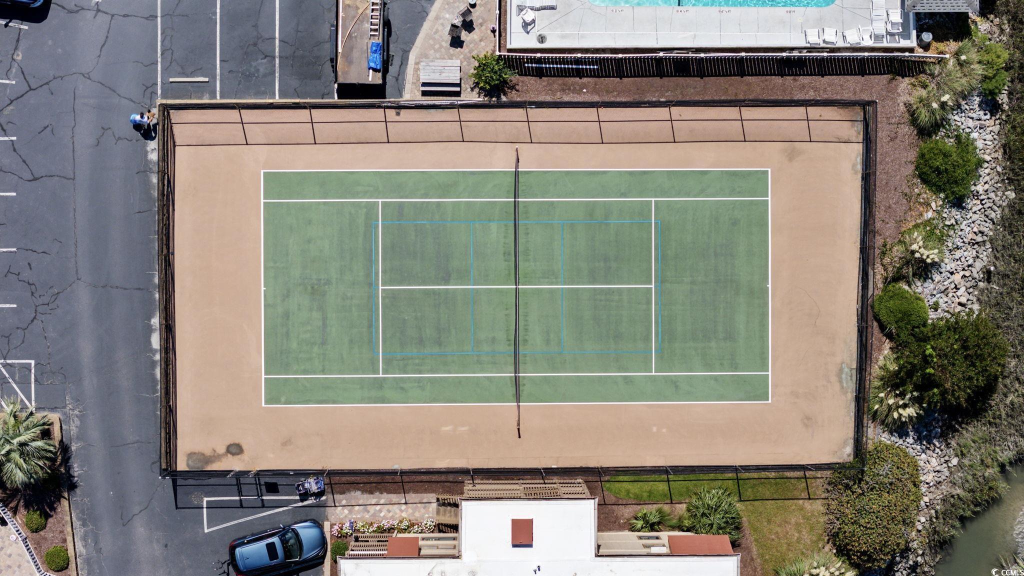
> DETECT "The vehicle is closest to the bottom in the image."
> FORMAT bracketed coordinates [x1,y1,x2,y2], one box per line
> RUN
[217,517,328,576]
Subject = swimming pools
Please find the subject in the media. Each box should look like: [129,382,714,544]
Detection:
[507,0,917,48]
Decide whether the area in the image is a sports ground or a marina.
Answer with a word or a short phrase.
sports ground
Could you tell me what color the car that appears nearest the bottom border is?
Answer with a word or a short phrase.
blue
